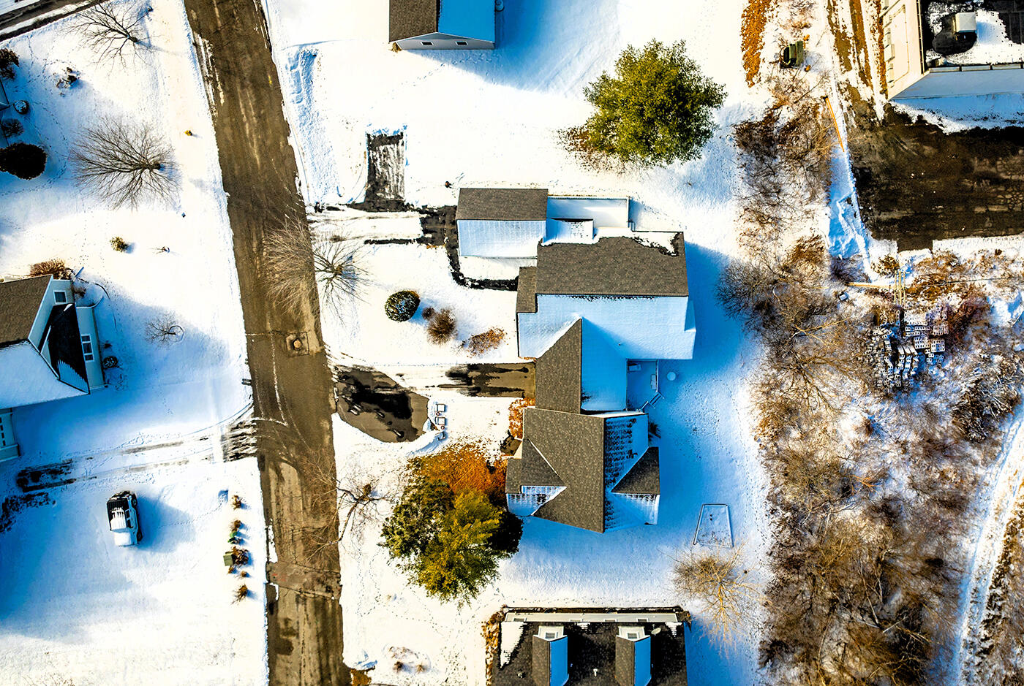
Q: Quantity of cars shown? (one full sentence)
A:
In total, 1 car can be seen.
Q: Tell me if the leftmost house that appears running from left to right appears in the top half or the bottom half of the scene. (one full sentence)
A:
You can find the leftmost house that appears running from left to right in the top half.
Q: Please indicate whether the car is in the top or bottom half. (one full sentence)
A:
It is in the bottom half that the car appears.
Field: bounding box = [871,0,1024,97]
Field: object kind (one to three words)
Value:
building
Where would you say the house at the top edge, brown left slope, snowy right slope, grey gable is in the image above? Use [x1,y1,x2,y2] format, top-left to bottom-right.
[387,0,497,52]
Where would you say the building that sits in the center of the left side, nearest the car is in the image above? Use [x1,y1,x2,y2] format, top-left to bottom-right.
[0,267,102,461]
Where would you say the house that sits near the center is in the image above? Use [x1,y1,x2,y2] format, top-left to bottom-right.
[455,187,696,533]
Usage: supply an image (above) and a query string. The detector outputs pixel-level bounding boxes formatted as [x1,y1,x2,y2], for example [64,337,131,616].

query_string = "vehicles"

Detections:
[103,490,139,551]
